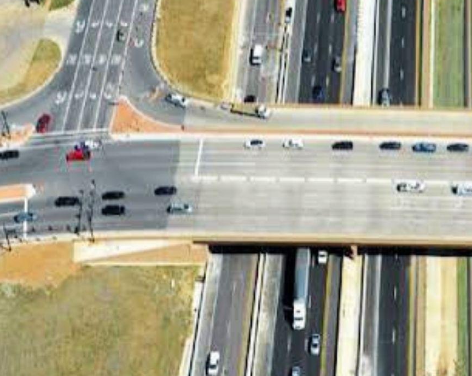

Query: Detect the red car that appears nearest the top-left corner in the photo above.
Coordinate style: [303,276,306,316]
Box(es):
[38,114,50,131]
